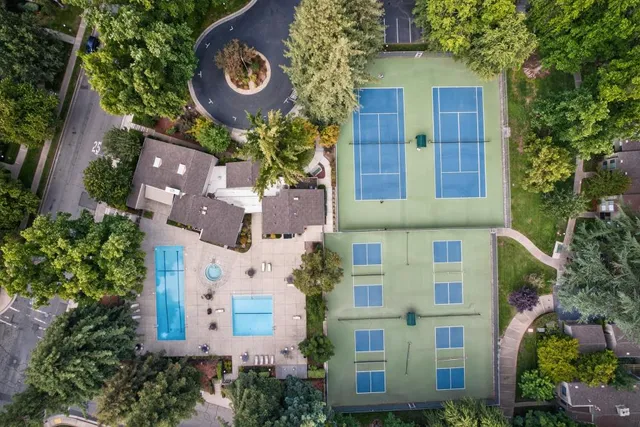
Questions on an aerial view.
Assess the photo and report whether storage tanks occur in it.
No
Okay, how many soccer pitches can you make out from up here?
none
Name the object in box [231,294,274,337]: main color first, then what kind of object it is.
blue swimming pool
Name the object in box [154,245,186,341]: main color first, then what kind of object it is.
blue swimming pool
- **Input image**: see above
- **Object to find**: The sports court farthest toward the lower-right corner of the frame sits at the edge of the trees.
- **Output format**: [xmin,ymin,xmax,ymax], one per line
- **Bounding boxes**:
[434,326,467,390]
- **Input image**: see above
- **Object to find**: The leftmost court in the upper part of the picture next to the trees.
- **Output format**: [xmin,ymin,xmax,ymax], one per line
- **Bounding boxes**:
[349,87,411,201]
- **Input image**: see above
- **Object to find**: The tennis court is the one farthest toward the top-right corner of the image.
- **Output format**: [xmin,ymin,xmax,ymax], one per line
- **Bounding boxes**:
[429,86,491,198]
